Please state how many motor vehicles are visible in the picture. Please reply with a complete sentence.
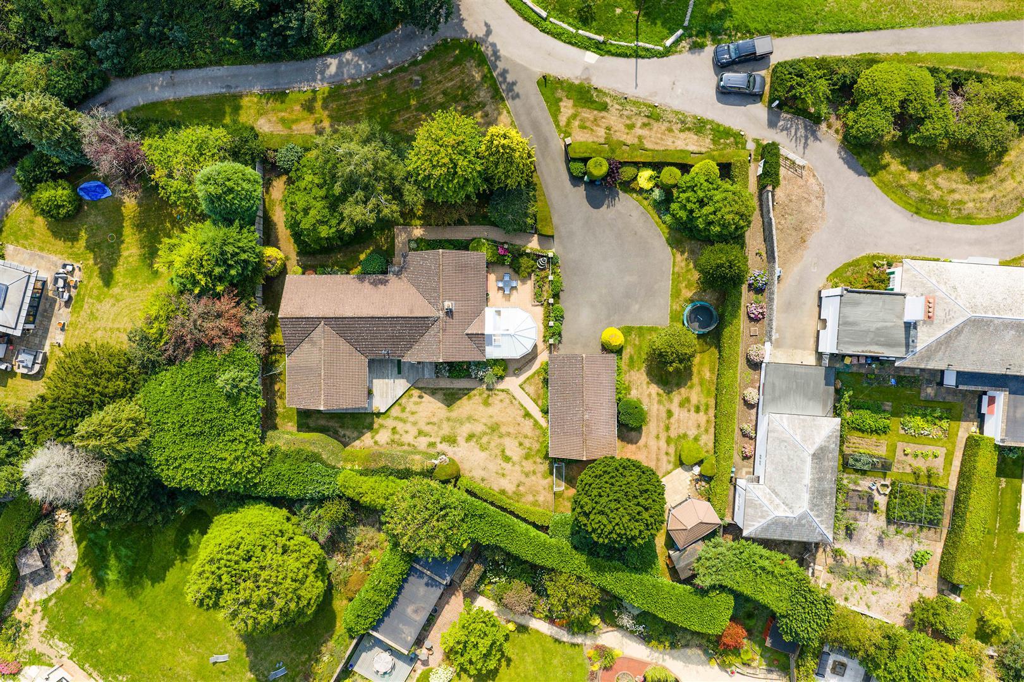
The number of motor vehicles here is 2.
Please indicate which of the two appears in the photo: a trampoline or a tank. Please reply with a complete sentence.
Looking from above, you can make out a trampoline.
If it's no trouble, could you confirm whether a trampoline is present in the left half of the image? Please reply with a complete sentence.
No, looking in the left half of the image, there is no trampoline.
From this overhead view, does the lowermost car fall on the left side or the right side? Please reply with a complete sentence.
The lowermost car sits on the right side.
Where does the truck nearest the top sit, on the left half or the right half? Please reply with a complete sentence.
The truck nearest the top appears in the right half of the scene.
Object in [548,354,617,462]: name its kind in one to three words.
building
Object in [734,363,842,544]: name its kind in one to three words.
shed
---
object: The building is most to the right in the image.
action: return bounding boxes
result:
[875,258,1024,447]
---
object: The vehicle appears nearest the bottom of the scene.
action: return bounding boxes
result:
[715,70,764,97]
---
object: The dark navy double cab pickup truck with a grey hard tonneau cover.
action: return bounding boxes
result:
[712,35,775,68]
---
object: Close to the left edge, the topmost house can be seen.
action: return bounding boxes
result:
[0,260,50,358]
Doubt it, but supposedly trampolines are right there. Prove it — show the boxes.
[678,299,722,334]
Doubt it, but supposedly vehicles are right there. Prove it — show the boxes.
[715,70,764,97]
[712,35,775,68]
